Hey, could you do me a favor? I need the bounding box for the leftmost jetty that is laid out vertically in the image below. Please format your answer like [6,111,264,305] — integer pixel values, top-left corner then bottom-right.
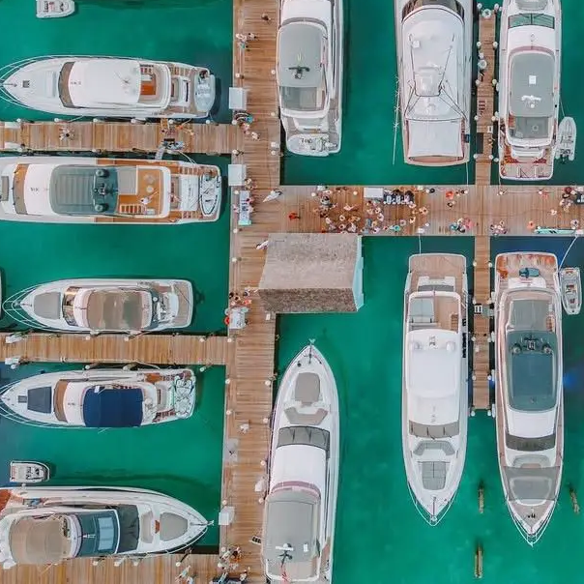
[222,0,282,584]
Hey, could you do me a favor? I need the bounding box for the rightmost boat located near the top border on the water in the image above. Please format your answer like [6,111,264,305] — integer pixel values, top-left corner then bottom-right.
[497,0,562,179]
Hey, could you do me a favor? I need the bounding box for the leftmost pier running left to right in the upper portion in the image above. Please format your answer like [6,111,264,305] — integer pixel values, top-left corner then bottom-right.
[0,121,232,154]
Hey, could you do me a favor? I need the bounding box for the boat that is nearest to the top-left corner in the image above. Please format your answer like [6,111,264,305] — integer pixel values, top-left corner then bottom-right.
[35,0,74,17]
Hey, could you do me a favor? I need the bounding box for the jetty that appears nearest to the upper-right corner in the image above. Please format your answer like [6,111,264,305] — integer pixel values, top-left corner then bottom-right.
[476,8,497,187]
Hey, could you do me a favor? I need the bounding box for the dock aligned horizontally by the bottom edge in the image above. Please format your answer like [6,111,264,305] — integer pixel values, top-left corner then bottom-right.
[0,551,223,584]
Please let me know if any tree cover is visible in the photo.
No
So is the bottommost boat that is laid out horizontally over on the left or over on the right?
left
